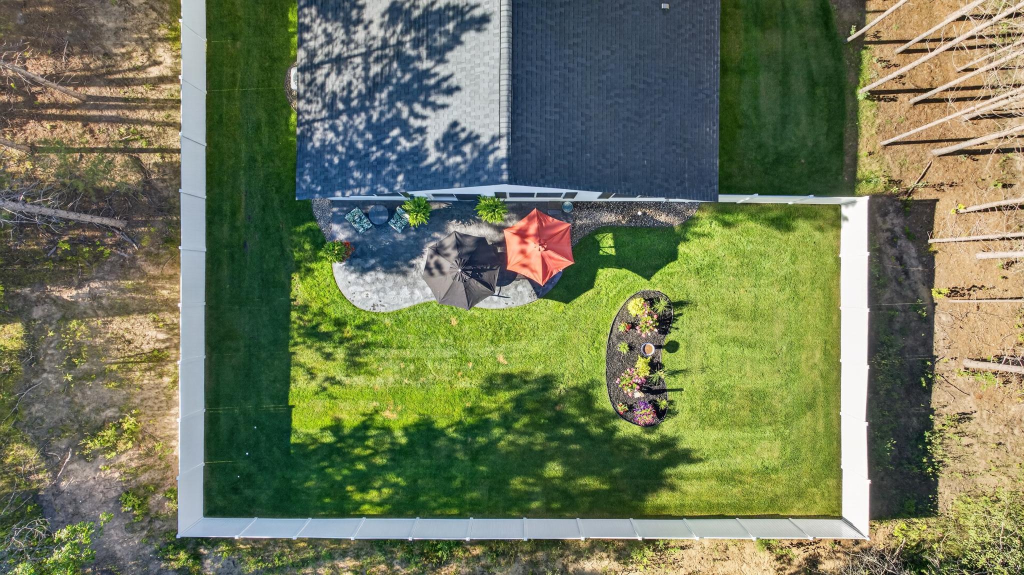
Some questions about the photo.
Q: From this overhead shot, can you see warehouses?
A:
No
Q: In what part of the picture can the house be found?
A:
top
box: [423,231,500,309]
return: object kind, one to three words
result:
umbrella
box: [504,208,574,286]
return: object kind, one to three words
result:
umbrella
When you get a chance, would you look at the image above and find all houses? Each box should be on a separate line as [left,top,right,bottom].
[295,0,722,204]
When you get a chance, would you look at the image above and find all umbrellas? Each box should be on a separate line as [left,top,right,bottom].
[423,231,500,309]
[504,208,574,286]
